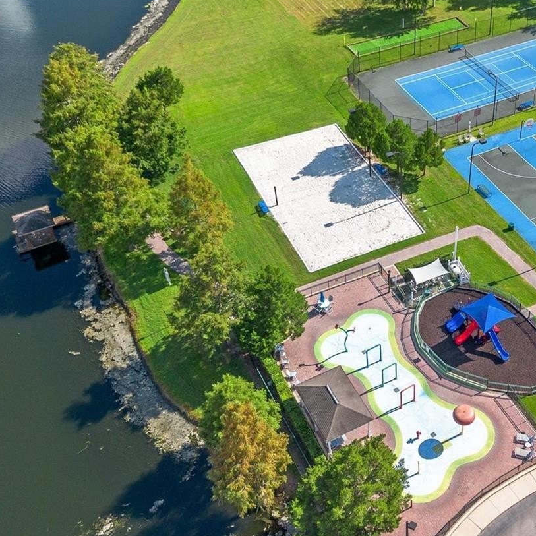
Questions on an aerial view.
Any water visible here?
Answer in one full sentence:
Yes, the picture does contain water.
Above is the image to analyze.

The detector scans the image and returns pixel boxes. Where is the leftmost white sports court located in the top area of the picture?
[233,122,426,275]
